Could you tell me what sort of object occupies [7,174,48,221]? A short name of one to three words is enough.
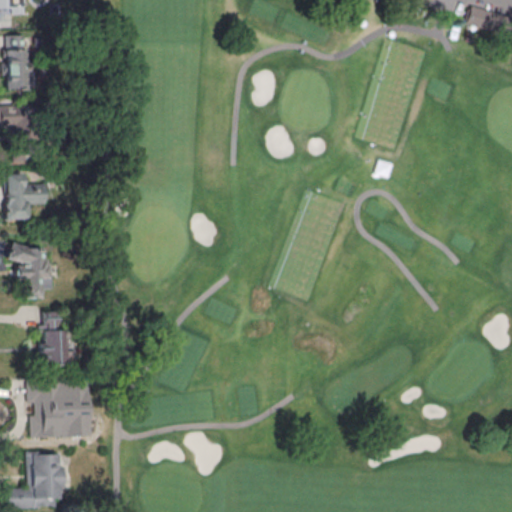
house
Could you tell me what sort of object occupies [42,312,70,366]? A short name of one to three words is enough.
house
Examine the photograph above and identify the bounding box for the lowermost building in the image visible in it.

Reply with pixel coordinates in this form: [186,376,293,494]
[12,452,66,510]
